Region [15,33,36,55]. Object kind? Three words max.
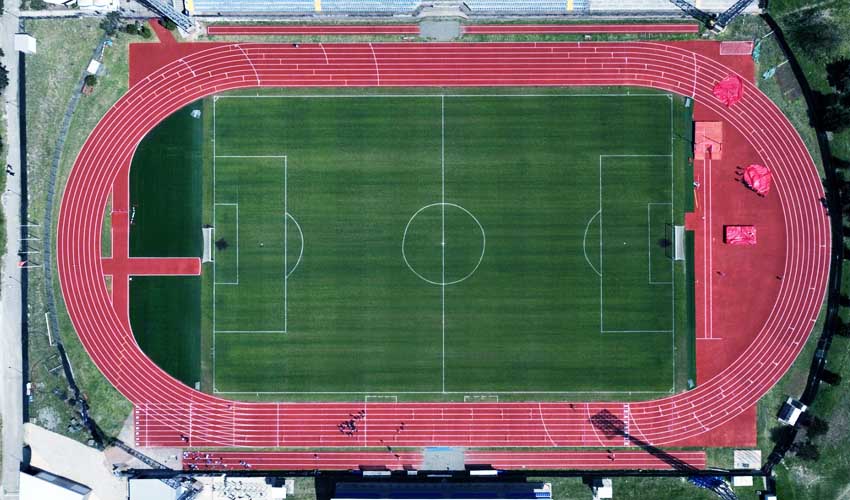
shed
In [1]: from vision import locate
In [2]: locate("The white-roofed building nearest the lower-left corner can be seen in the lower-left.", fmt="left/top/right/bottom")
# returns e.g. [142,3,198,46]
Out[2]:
[11,467,92,500]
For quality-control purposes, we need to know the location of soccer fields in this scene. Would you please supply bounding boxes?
[203,86,687,403]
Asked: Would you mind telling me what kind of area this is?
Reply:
sports ground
